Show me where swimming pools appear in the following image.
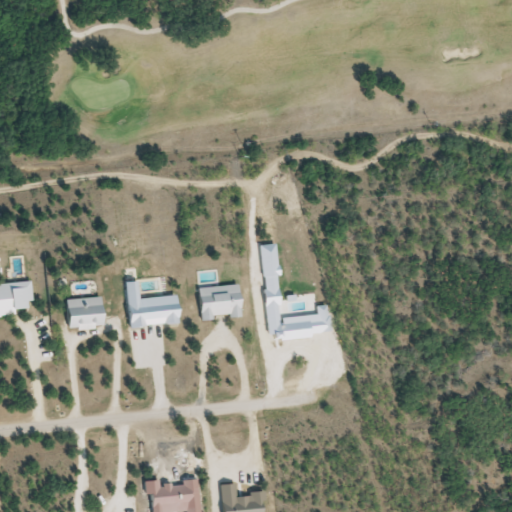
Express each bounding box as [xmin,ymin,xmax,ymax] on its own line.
[68,280,97,295]
[136,277,162,294]
[198,270,218,285]
[282,294,316,314]
[7,256,26,278]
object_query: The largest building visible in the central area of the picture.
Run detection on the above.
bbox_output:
[260,244,332,341]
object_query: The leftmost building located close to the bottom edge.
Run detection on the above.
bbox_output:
[145,480,204,512]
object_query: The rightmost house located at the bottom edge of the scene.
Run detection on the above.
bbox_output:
[220,483,268,512]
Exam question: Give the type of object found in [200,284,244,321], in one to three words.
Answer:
house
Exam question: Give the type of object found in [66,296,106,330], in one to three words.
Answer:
house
